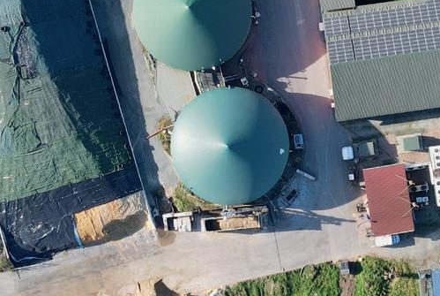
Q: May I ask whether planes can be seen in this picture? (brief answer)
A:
No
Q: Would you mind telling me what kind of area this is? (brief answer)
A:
industrial area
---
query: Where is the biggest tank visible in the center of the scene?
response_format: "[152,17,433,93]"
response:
[170,86,290,207]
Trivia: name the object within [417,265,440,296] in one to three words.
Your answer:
shed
